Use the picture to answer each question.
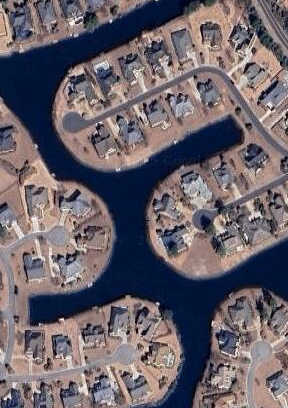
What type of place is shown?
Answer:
residential area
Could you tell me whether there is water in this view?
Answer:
Yes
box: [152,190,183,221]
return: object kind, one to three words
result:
house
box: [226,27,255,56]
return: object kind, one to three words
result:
house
